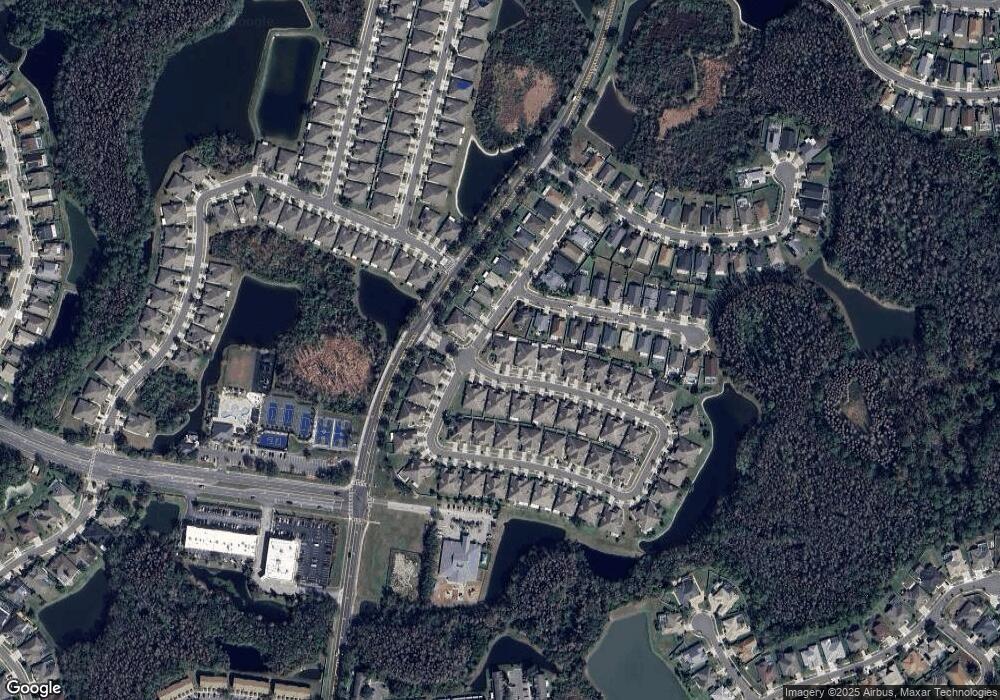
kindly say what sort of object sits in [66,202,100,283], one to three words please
pond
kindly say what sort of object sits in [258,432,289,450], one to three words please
sports court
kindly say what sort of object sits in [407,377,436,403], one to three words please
house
